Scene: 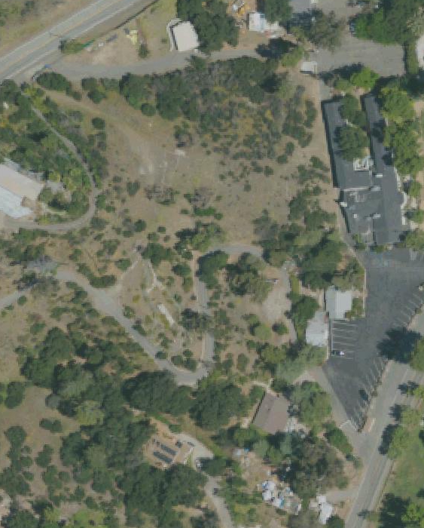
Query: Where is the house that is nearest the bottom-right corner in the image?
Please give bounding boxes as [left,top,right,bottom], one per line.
[309,496,333,524]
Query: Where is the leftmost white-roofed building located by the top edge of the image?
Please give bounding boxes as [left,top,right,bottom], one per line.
[166,18,199,51]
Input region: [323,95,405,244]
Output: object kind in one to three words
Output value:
building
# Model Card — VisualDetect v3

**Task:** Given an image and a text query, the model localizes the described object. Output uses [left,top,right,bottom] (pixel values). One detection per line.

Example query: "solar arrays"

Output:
[160,443,178,457]
[153,451,173,466]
